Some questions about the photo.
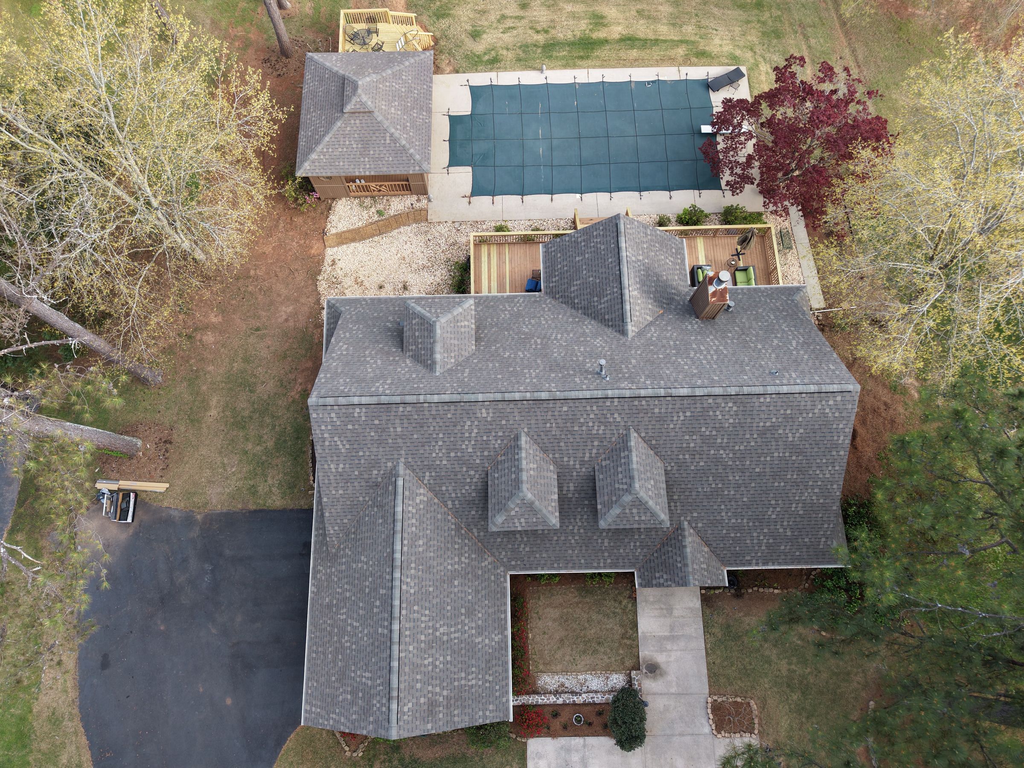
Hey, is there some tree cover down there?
Yes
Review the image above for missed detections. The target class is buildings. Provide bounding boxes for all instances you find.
[300,210,860,743]
[295,50,435,201]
